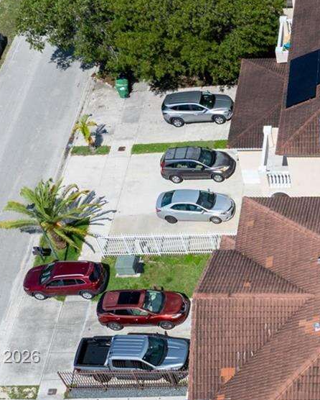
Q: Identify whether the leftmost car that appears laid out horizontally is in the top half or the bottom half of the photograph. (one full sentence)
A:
Seen from above, the leftmost car that appears laid out horizontally lies in the bottom half of the view.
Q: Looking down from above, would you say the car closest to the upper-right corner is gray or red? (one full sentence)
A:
From above, the car closest to the upper-right corner appears gray.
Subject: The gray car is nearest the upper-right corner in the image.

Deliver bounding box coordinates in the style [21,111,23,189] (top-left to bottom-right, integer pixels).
[161,90,235,127]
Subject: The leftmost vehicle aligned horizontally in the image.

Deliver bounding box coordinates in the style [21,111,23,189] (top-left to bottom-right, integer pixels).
[21,257,111,300]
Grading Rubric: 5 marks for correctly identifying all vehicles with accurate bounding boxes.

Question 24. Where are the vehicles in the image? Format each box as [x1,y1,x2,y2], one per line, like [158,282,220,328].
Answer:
[161,90,235,127]
[158,146,237,184]
[21,257,111,300]
[154,189,237,226]
[72,333,189,382]
[95,287,191,331]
